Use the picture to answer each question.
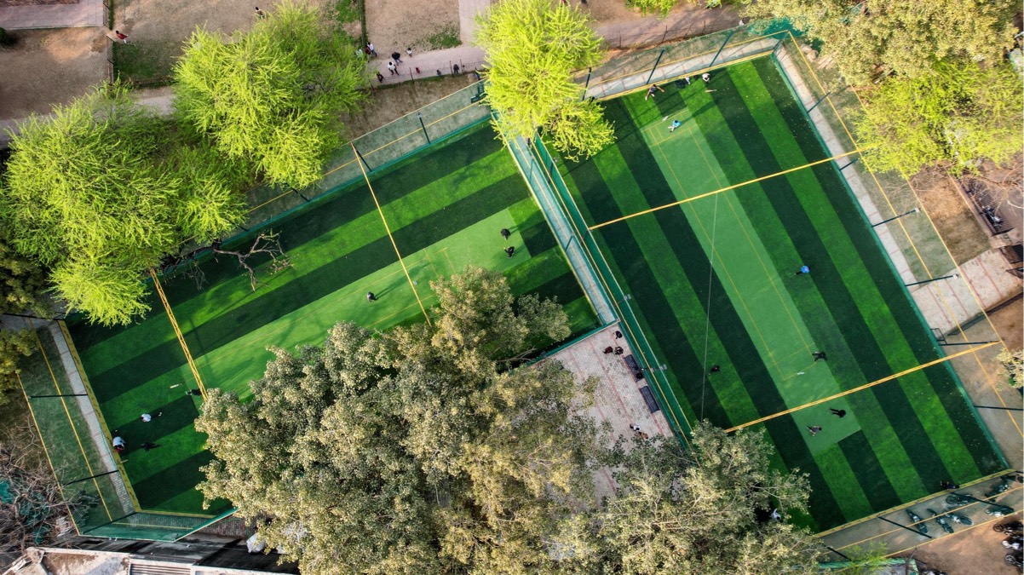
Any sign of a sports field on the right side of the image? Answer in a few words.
Yes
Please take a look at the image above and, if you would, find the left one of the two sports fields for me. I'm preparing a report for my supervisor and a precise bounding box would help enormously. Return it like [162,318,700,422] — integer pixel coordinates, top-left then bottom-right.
[63,117,600,516]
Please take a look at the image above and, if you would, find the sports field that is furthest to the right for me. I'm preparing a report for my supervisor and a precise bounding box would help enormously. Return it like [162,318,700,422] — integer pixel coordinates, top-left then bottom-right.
[538,58,1004,547]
